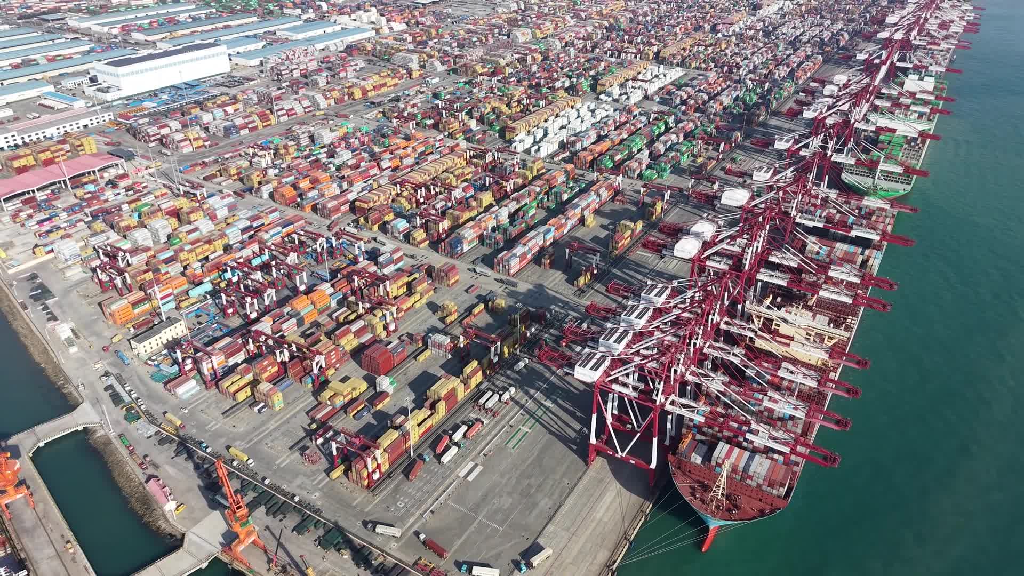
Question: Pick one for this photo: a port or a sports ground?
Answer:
port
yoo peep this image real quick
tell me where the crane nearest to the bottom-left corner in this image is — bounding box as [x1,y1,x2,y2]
[0,443,33,525]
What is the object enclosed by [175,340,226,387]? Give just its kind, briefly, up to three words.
crane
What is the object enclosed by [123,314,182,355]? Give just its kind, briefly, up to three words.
building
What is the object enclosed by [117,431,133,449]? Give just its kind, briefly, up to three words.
vehicle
